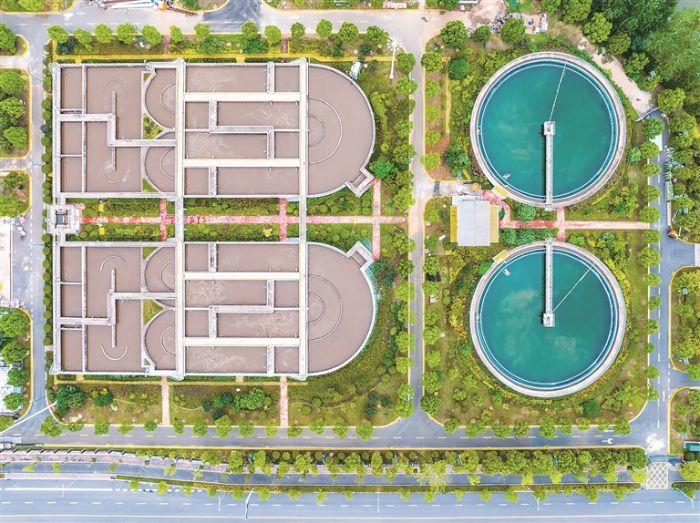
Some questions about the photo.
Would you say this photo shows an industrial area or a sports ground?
industrial area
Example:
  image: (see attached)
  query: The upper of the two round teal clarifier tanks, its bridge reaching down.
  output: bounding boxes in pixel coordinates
[468,50,628,212]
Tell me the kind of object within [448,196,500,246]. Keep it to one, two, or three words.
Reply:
building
